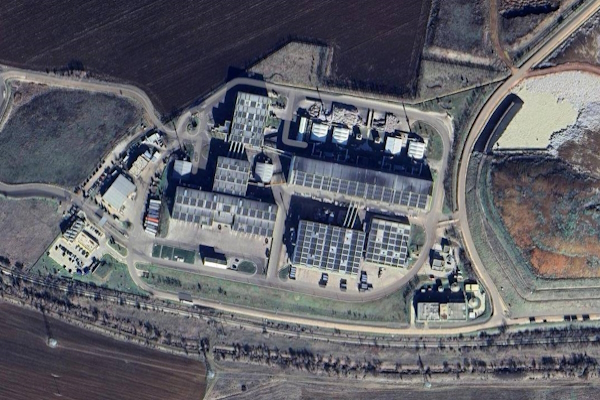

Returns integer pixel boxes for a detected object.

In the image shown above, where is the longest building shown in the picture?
[287,156,434,212]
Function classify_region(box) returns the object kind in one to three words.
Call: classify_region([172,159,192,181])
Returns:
shed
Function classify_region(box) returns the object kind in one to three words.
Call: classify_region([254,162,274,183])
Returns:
shed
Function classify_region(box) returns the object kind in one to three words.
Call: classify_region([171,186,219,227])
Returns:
building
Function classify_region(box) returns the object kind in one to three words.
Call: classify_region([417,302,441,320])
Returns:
building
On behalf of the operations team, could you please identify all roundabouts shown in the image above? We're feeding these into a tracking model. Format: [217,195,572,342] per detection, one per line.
[179,111,206,142]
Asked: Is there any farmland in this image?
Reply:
Yes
